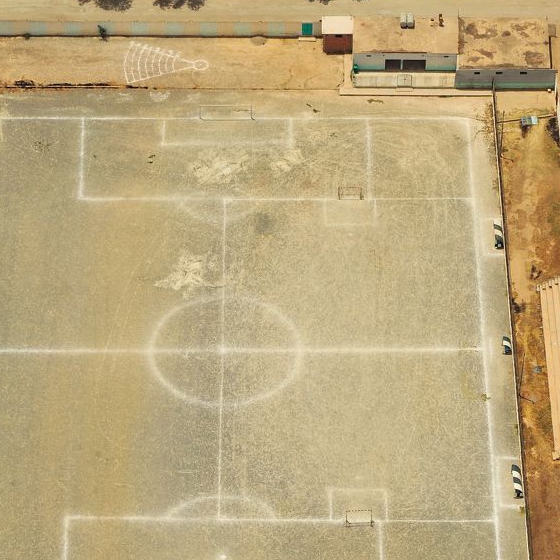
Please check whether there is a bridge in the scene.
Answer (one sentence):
No, no bridge is visible in the view.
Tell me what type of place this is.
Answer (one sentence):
The area seen from above is a sports ground.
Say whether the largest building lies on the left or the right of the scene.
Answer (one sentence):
You can find the largest building on the right side of the picture.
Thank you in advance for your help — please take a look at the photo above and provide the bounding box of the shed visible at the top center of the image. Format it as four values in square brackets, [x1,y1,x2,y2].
[321,15,354,54]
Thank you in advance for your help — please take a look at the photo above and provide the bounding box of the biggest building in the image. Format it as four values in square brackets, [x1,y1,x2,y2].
[456,18,559,90]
